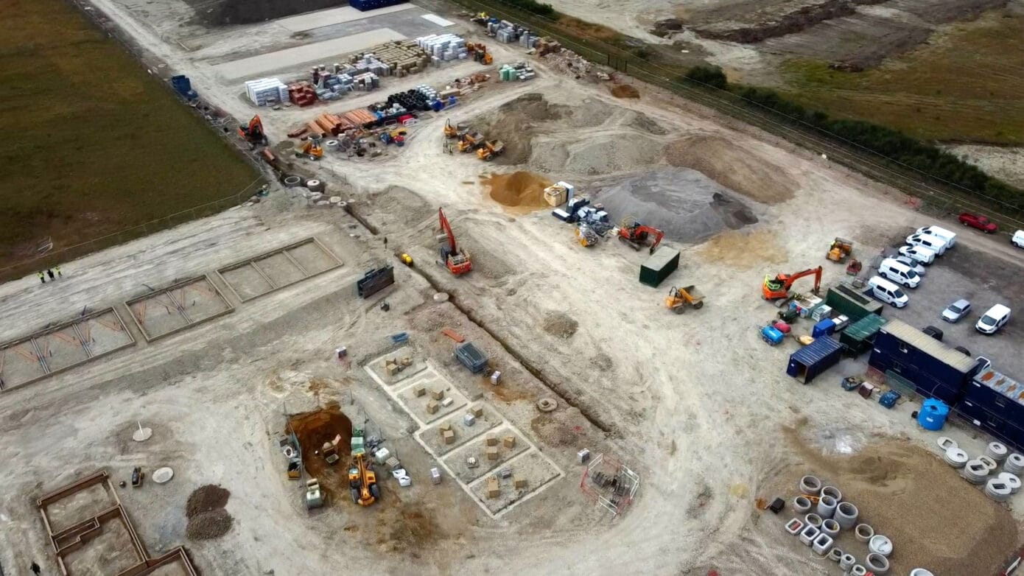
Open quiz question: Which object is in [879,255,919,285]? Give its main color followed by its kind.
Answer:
white van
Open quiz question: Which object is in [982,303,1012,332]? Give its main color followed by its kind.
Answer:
white van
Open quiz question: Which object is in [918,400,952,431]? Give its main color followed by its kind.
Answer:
blue water tank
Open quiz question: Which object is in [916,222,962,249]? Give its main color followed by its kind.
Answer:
white vehicle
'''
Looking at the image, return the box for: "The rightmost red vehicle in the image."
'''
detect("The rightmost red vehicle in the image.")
[958,214,1000,234]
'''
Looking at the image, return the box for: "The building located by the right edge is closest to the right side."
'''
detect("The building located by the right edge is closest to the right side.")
[964,370,1024,452]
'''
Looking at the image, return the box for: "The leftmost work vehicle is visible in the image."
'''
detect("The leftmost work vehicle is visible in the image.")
[239,113,267,144]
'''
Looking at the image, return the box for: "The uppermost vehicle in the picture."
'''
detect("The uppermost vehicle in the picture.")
[469,41,490,60]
